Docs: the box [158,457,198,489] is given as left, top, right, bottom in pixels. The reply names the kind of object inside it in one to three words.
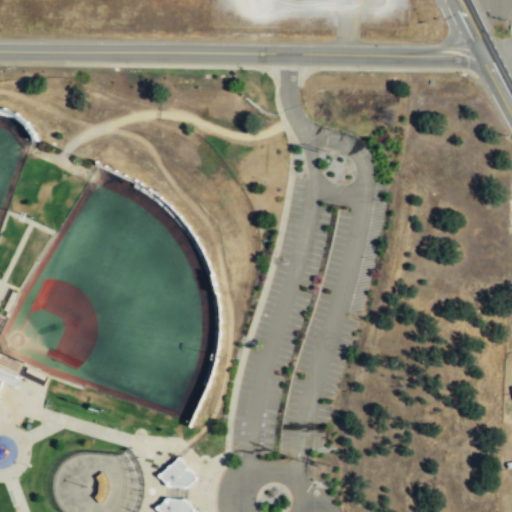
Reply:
building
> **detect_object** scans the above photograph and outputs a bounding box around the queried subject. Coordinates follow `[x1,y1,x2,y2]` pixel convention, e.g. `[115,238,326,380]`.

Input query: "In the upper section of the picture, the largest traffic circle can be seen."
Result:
[322,148,358,186]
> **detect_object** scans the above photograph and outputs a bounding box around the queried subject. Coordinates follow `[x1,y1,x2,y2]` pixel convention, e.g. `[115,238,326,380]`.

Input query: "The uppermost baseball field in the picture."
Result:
[0,112,38,226]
